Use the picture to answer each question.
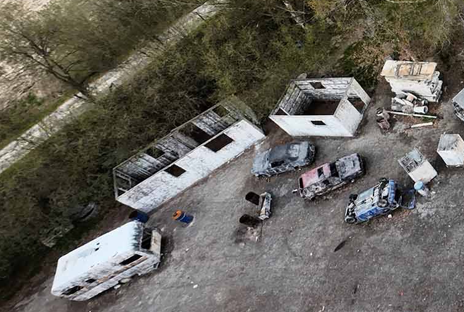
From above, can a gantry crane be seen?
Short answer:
No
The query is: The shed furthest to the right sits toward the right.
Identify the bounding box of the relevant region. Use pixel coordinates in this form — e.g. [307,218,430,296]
[269,77,369,136]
